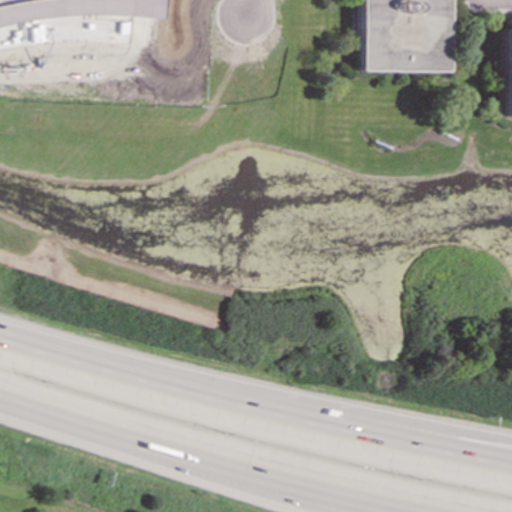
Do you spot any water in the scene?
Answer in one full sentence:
Yes, water can be seen from above here.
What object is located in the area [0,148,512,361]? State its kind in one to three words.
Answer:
pond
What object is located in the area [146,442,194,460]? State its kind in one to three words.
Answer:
vehicle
